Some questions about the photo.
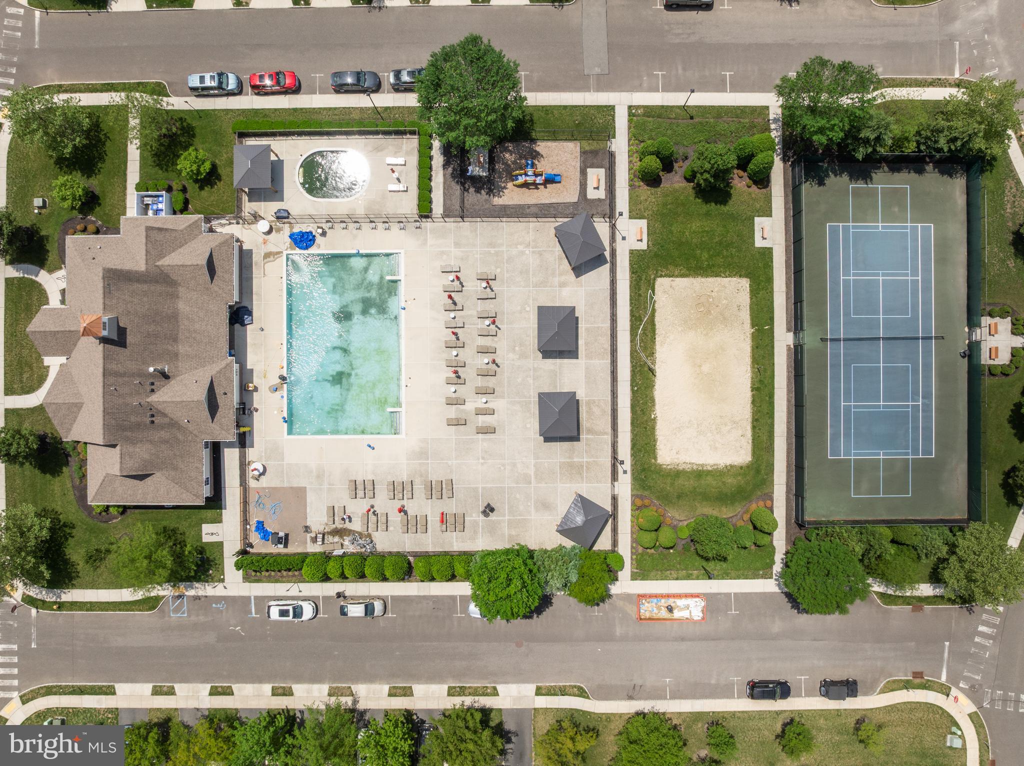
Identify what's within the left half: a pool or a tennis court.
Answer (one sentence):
The one visible within the left half is a pool.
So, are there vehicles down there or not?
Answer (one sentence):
Yes, there's a vehicle here.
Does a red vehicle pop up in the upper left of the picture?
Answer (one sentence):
Yes, you'll find a red vehicle in the upper left of the picture.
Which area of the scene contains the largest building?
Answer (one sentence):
The largest building is located in the left region of the scene.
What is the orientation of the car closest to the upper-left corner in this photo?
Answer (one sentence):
I'd say the car closest to the upper-left corner is aligned from left to right in the picture.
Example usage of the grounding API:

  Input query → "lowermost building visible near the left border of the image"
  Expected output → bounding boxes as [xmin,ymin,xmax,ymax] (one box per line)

[26,214,243,505]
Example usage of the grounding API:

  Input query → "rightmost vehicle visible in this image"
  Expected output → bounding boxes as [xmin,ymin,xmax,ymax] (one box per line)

[823,680,862,704]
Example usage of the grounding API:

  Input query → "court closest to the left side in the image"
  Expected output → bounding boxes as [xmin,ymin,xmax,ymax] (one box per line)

[655,277,752,468]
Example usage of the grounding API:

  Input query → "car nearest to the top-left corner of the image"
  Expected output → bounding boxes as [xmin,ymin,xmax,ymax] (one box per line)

[184,69,239,95]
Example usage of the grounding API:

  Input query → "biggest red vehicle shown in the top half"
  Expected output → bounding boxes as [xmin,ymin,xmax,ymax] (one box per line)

[246,68,296,94]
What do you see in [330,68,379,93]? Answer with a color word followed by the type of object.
gray car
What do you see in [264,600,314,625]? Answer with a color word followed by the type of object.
white car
